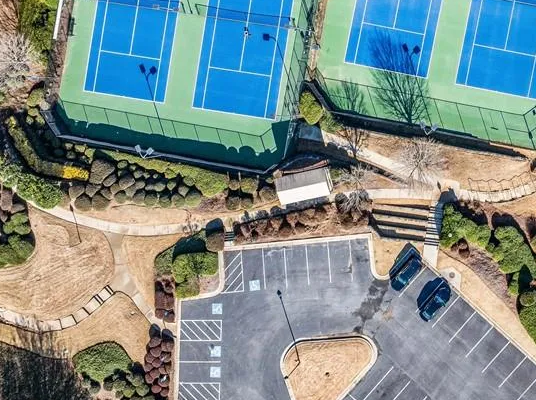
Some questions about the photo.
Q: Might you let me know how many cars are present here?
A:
2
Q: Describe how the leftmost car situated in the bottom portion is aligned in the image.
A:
on a diagonal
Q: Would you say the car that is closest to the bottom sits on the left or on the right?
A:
right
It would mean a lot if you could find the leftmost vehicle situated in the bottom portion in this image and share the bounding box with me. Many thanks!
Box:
[389,253,425,291]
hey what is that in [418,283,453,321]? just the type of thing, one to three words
car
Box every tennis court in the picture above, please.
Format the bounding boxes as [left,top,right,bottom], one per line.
[432,0,536,148]
[57,0,194,154]
[171,0,315,171]
[311,0,457,129]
